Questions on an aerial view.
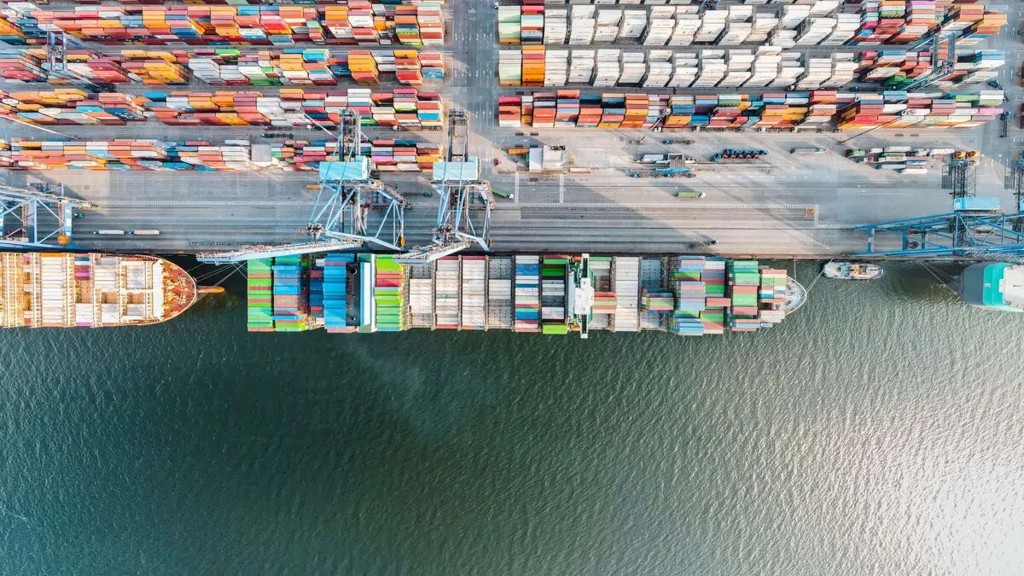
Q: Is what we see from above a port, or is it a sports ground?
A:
port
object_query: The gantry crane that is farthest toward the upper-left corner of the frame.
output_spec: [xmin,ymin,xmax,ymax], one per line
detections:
[39,31,104,90]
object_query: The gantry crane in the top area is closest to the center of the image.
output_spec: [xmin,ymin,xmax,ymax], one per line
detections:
[390,107,497,259]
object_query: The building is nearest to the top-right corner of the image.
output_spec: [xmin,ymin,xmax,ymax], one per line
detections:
[527,146,567,174]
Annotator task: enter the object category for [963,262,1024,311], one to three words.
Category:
ship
